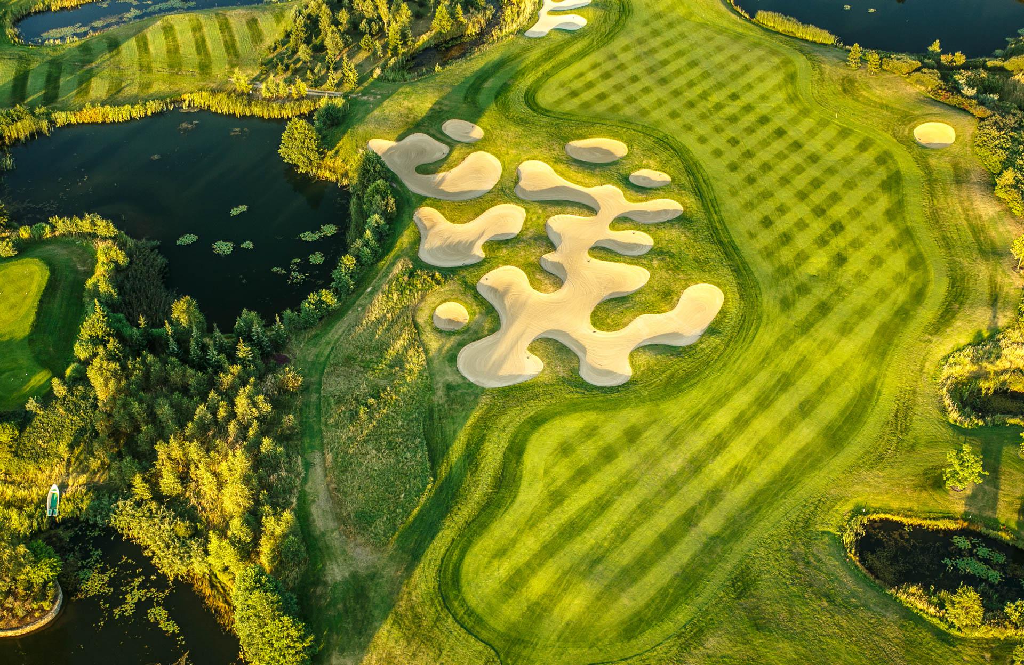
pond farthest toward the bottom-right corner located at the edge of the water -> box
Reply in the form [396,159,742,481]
[855,518,1024,619]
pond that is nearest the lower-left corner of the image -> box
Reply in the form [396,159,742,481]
[0,524,239,665]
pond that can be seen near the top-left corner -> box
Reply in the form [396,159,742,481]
[14,0,285,45]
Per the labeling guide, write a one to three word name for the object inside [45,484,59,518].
boat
